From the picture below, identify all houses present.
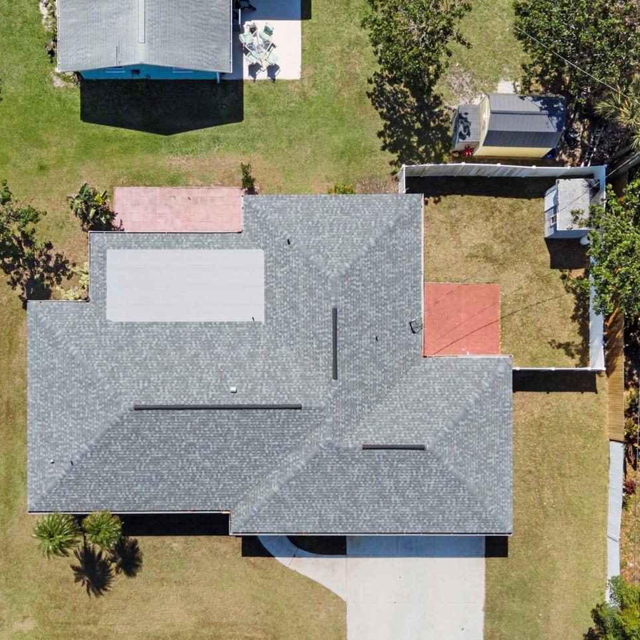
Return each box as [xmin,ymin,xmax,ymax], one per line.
[56,0,242,80]
[28,193,513,537]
